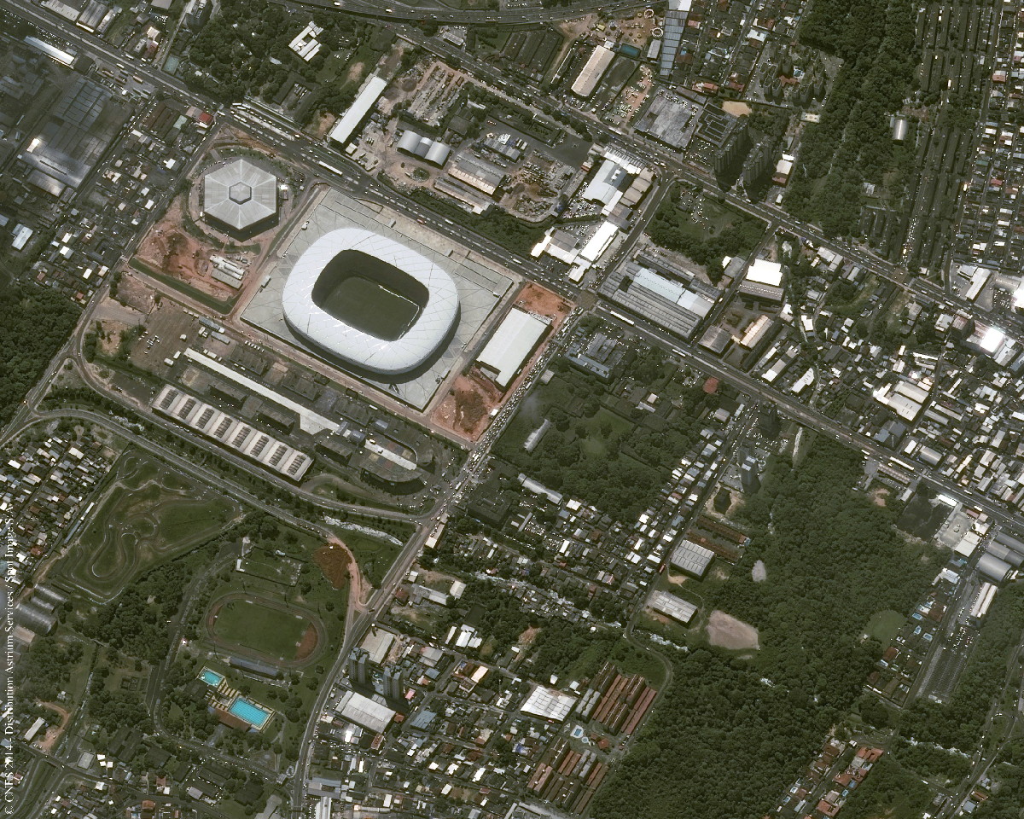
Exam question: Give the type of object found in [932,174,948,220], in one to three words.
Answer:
building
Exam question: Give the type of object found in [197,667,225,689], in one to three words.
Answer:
swimming pool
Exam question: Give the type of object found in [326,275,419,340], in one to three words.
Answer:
sports field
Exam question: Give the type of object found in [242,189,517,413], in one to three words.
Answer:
stadium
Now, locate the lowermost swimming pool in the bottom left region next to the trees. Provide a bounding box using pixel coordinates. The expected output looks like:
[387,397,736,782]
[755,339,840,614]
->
[226,695,276,731]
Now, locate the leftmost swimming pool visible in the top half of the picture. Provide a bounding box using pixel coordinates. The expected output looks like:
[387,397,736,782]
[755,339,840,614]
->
[620,44,641,58]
